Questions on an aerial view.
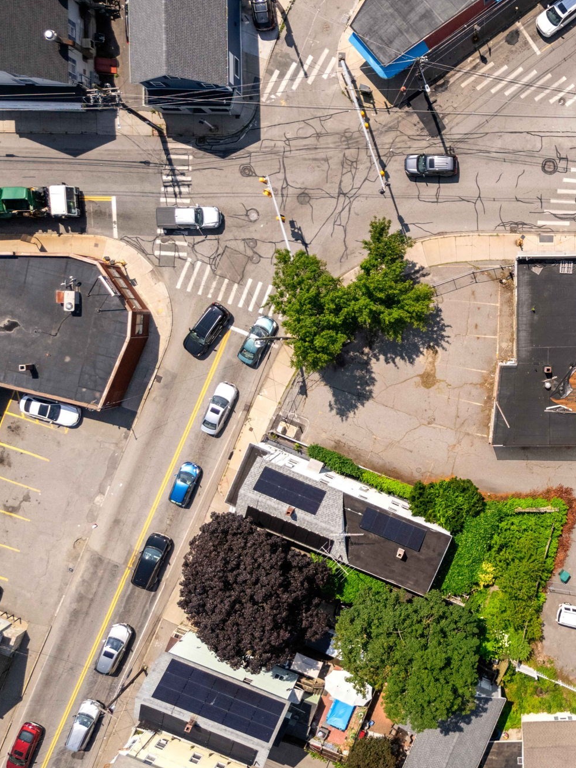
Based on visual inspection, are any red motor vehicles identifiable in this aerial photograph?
Yes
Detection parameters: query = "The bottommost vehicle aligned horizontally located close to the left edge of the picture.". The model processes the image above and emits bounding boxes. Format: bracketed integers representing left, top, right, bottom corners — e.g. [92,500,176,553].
[15,393,85,428]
